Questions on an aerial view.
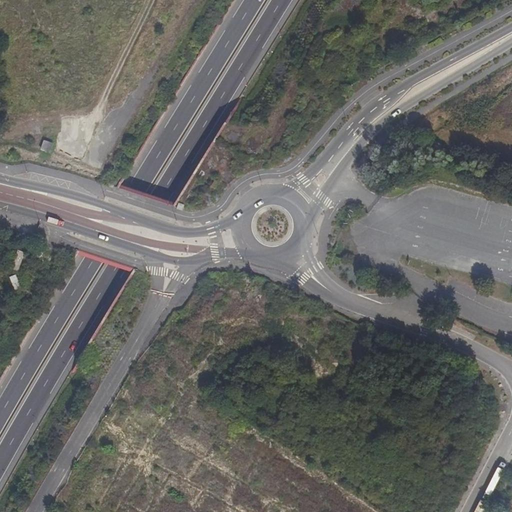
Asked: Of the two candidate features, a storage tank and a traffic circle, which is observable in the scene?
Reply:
traffic circle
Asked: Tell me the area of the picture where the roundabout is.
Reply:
center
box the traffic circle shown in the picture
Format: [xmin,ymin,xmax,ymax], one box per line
[198,154,342,290]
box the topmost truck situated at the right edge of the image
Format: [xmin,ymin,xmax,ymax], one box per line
[484,460,507,496]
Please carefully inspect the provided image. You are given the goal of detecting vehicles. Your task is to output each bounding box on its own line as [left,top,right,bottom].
[68,340,78,352]
[254,199,264,208]
[98,235,108,242]
[472,496,487,512]
[233,210,244,220]
[484,460,507,496]
[392,108,402,116]
[46,216,64,226]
